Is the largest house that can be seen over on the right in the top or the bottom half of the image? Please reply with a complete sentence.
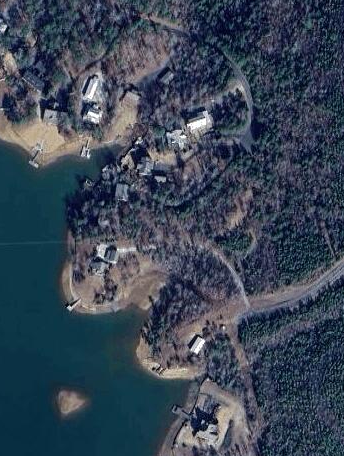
You can find the largest house that can be seen over on the right in the bottom half.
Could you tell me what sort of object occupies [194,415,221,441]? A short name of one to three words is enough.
house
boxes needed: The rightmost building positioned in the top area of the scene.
[186,110,212,131]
